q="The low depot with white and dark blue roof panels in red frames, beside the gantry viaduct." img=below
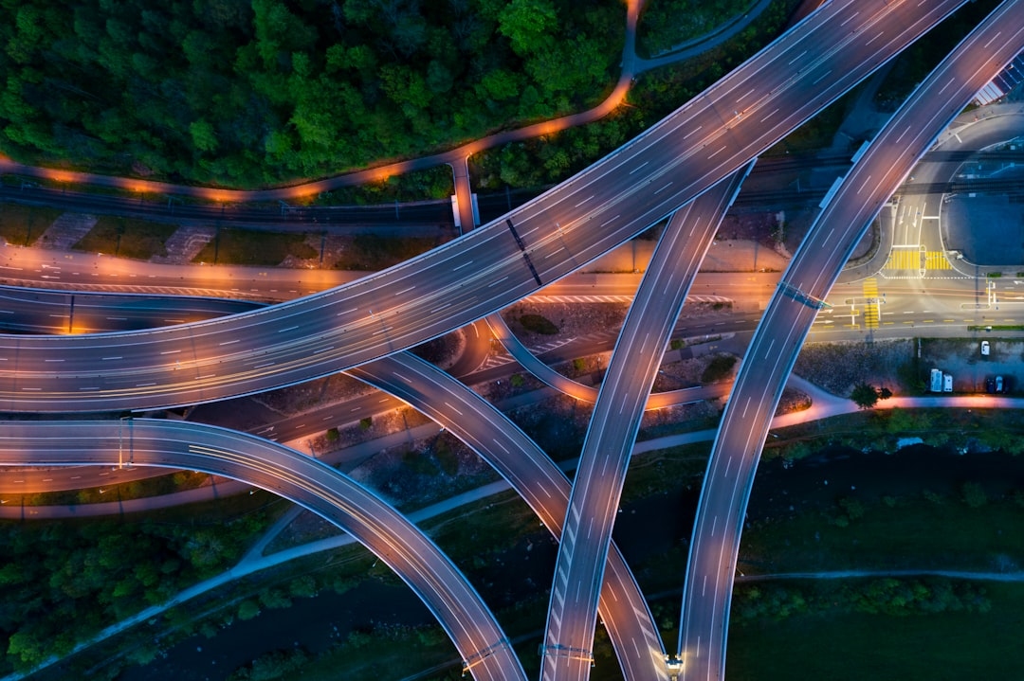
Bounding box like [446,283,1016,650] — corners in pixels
[971,49,1024,113]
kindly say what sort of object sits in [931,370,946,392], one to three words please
camper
